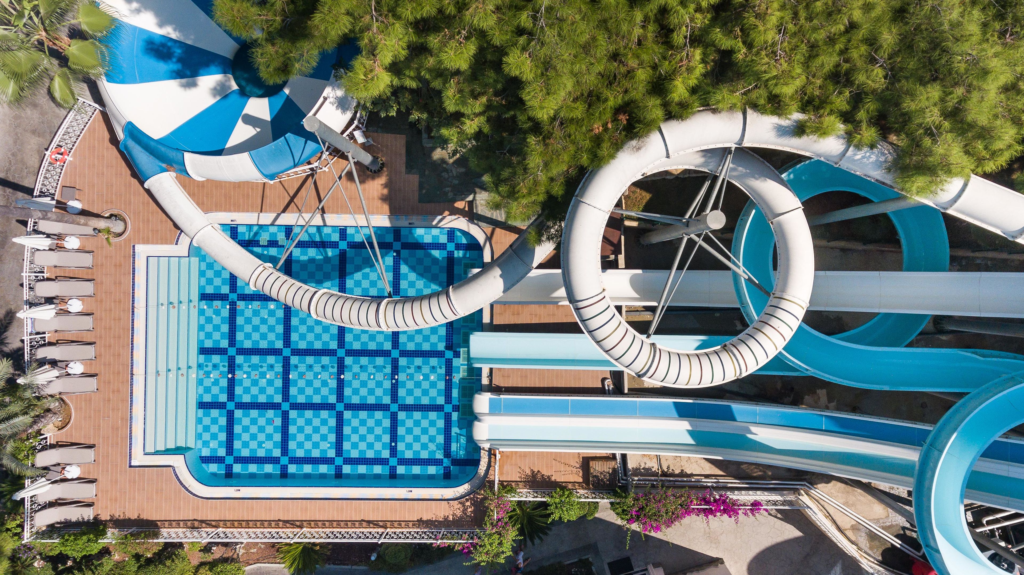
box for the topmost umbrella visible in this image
[14,197,82,214]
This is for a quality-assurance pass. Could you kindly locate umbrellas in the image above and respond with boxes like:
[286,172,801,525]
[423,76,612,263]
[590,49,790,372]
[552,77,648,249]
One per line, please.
[10,234,80,249]
[10,466,80,500]
[15,363,83,383]
[14,197,82,214]
[14,299,83,317]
